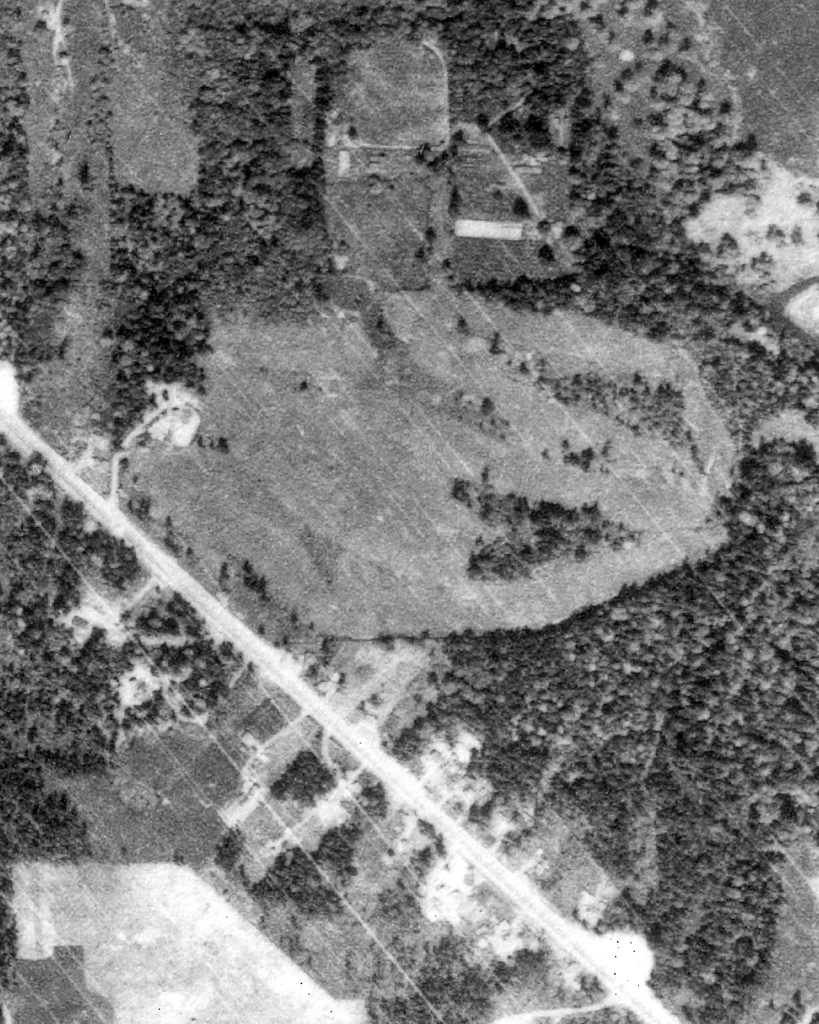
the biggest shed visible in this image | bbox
[456,219,522,240]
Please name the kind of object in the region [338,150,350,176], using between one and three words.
barn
